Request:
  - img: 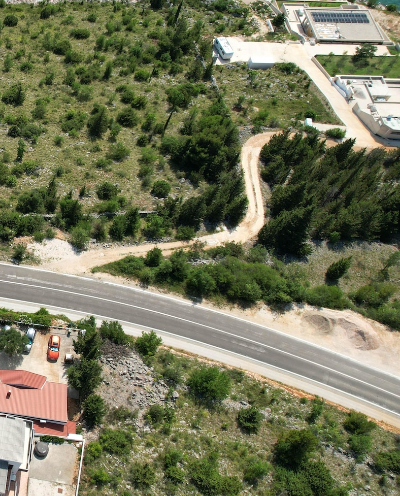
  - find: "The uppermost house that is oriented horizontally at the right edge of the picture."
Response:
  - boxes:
[281,3,385,47]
